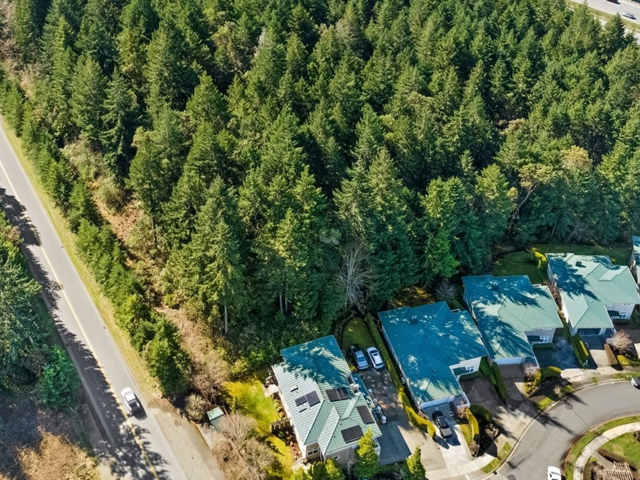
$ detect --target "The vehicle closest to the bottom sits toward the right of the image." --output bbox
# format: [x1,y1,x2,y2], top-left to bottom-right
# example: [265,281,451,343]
[543,464,560,480]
